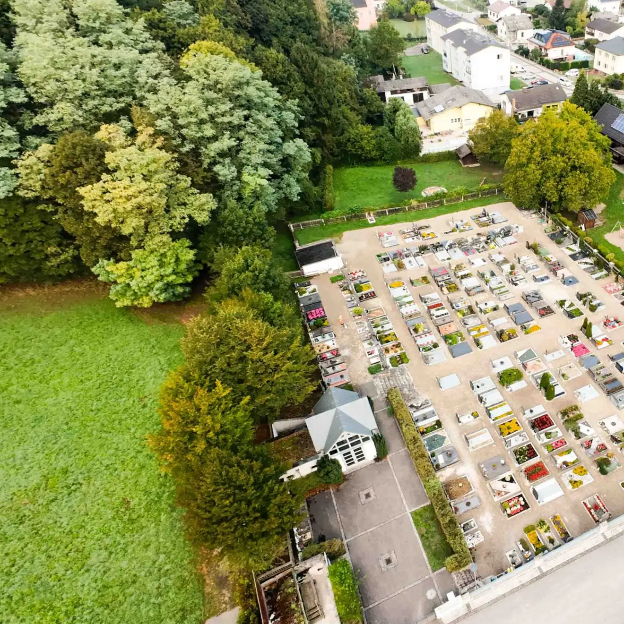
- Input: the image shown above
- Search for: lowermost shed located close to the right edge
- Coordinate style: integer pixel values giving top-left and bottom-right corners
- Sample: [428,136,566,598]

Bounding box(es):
[576,207,600,229]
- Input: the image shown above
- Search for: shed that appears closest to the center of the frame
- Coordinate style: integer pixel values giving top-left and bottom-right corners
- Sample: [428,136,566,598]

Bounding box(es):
[294,239,344,280]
